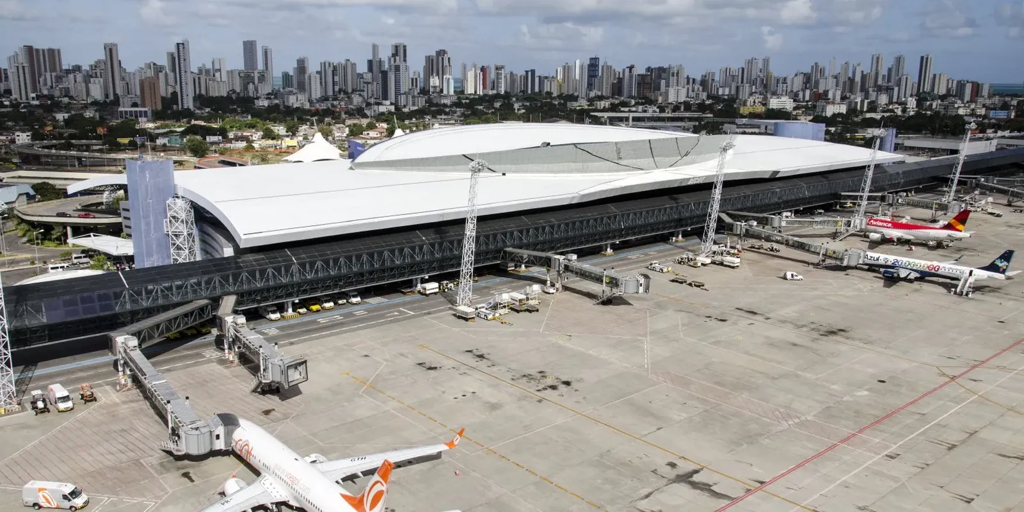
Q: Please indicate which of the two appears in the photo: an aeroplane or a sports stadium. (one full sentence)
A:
It is an aeroplane that can be seen here.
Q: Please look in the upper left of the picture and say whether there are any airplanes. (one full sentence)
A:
No, in the upper left of the picture there is no airplane.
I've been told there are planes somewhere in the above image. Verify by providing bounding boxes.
[846,209,974,242]
[190,423,461,512]
[842,247,1018,279]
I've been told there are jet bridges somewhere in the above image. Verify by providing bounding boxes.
[108,293,239,470]
[833,191,967,222]
[727,209,865,242]
[509,244,652,305]
[714,211,854,270]
[214,292,314,397]
[937,175,1024,199]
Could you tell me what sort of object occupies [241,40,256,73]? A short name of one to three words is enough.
building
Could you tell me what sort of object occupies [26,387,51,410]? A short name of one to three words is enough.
work vehicle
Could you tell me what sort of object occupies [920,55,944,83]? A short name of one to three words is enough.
building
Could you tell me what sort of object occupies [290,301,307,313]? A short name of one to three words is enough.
vehicle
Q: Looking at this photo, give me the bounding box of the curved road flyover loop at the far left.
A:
[15,137,284,168]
